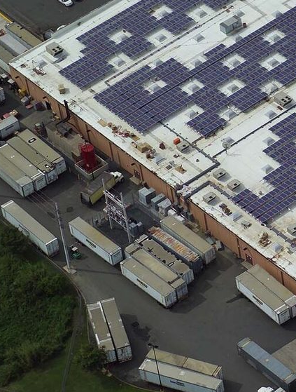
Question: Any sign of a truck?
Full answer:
Yes, a truck appears in the view.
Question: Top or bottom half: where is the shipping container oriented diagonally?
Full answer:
It is in the bottom half that the shipping container oriented diagonally appears.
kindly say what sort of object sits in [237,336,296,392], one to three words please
shipping container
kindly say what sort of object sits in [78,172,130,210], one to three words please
truck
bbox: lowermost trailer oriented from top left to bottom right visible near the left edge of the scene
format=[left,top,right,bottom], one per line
[2,199,60,255]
